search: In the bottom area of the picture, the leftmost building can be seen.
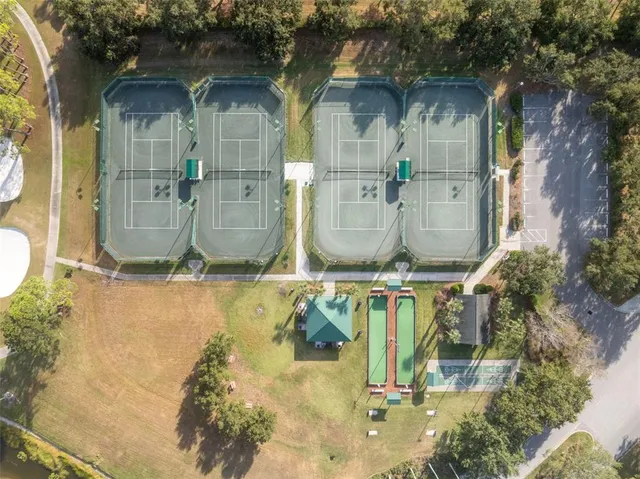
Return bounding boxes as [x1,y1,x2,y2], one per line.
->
[307,296,352,341]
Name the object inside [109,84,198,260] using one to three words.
tennis court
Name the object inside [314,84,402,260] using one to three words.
tennis court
